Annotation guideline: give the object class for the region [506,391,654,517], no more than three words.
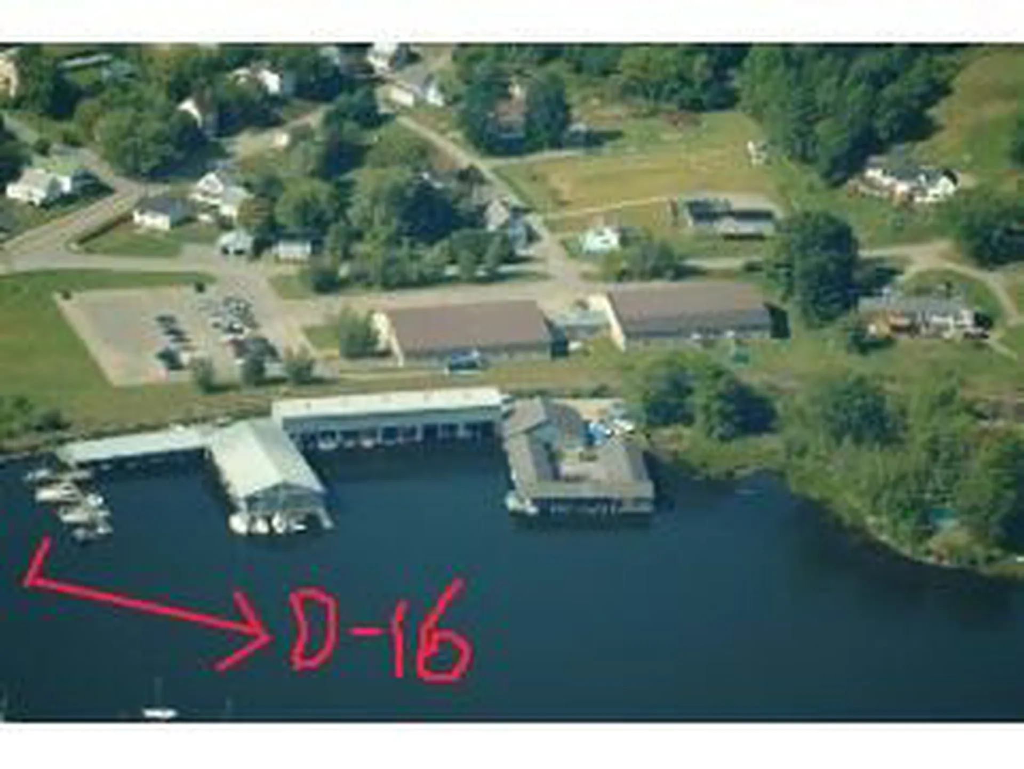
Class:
building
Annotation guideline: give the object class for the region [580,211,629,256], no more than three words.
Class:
house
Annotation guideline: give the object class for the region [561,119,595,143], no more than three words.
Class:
shed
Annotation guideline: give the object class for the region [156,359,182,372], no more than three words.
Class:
vehicle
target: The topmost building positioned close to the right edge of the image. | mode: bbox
[853,153,975,205]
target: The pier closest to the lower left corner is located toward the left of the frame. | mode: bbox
[52,459,113,539]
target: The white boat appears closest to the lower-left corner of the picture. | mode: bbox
[141,683,177,718]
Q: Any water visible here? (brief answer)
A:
Yes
